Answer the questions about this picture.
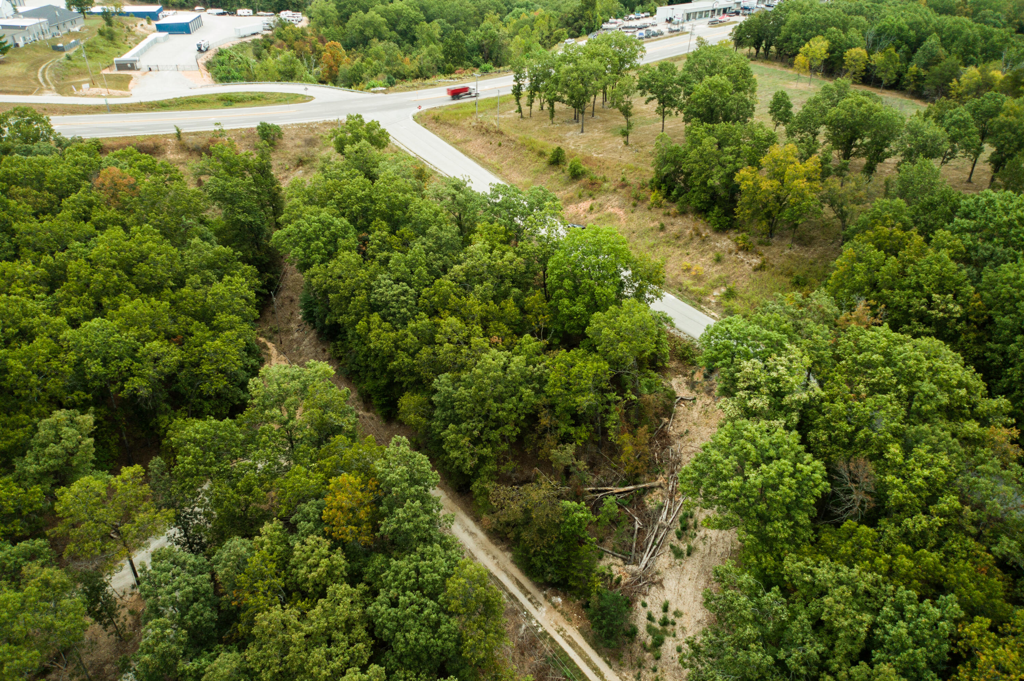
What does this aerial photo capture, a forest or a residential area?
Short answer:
forest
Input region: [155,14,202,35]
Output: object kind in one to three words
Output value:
building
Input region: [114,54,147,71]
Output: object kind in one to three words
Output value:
shed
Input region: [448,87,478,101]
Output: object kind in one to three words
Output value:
vehicle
